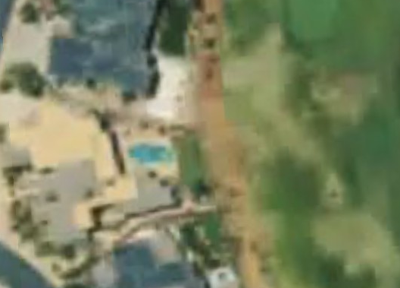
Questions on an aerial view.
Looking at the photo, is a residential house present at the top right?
No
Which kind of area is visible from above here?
golf course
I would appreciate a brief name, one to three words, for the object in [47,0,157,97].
house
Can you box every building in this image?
[47,0,157,97]
[112,238,207,288]
[5,100,178,241]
